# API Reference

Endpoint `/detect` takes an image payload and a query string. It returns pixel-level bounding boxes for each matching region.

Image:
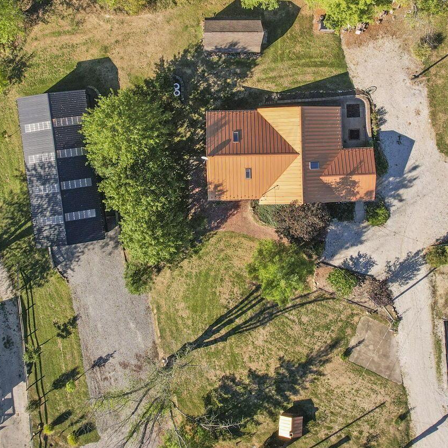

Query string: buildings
[206,105,376,205]
[17,89,107,247]
[278,410,304,440]
[204,17,263,53]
